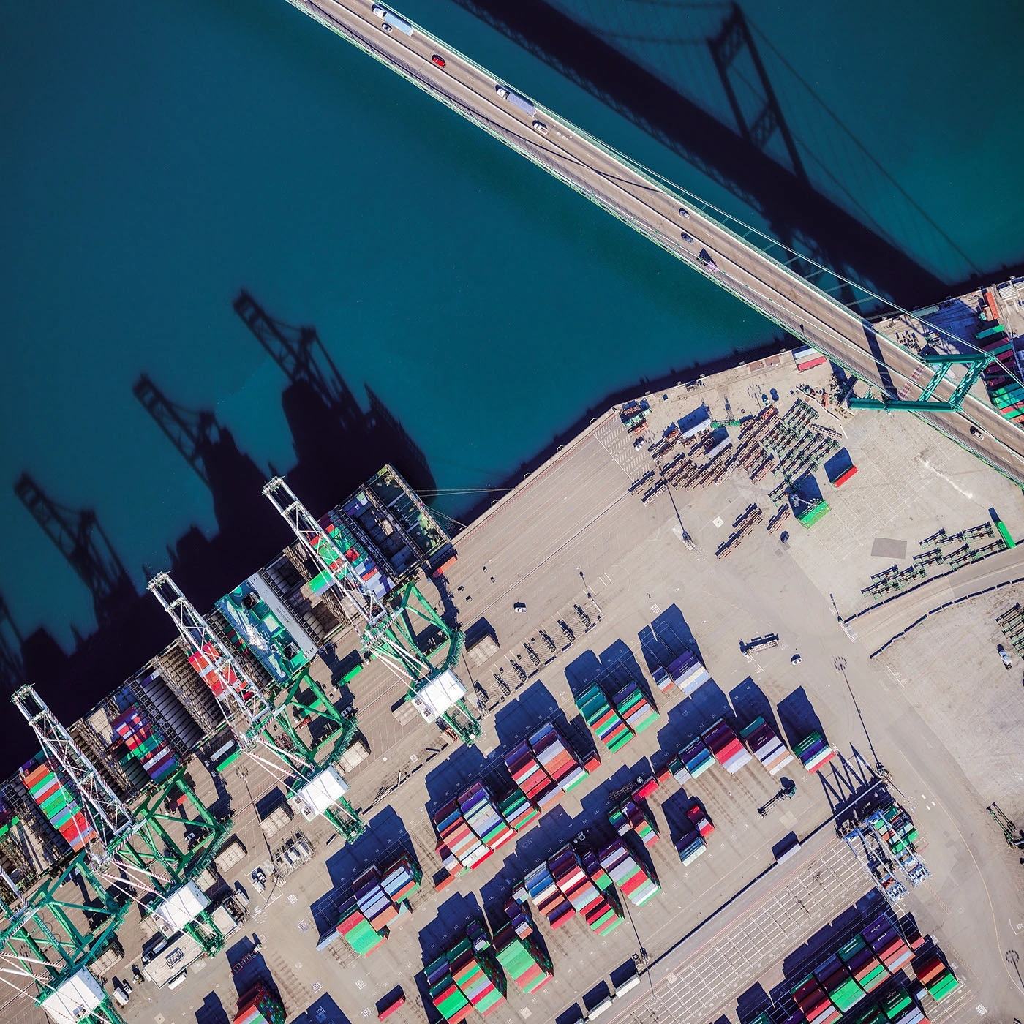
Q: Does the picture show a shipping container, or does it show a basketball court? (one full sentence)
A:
The image shows a shipping container.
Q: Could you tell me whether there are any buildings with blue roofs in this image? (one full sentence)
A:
No, this view has no building with a blue roof in it.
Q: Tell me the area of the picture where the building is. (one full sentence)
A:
The building is located in the bottom left region of the scene.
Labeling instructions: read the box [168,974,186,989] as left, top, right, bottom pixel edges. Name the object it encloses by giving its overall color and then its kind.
white vehicle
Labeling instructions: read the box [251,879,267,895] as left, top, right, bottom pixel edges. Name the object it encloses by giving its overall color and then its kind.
white vehicle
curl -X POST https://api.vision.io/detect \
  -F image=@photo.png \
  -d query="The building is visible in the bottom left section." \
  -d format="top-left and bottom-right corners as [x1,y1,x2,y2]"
[145,904,238,986]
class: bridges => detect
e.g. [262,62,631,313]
[275,0,1024,495]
